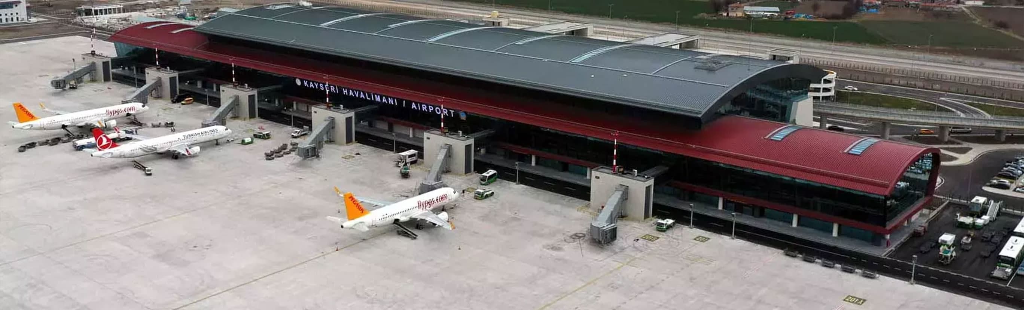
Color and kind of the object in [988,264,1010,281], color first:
gray work vehicle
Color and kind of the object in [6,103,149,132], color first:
white airplane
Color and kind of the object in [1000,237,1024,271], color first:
white bus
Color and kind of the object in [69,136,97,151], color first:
white vehicle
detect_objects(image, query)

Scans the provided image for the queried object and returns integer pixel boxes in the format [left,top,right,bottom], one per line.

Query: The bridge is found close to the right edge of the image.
[812,103,1024,141]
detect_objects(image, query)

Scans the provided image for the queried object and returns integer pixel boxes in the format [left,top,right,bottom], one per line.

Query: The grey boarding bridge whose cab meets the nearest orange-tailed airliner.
[414,139,454,195]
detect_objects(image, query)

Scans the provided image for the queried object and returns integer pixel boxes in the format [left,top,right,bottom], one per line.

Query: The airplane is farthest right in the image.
[326,188,459,233]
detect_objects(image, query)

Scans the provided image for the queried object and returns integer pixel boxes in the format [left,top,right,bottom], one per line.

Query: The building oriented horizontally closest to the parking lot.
[109,0,942,248]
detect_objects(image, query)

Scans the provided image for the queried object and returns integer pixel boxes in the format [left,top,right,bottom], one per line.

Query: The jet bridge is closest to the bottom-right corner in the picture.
[585,179,632,249]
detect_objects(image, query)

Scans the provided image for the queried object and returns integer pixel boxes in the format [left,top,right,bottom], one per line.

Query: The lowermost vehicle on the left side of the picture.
[388,220,414,246]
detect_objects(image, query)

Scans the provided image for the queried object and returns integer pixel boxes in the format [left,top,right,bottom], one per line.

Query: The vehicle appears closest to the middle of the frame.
[478,168,500,184]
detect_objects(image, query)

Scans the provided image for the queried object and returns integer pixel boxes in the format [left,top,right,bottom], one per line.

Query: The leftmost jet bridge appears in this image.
[48,58,97,93]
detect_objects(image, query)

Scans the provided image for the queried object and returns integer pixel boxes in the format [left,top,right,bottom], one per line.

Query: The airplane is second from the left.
[83,126,232,160]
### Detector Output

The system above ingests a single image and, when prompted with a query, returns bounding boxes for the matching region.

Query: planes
[6,103,149,132]
[83,126,232,160]
[326,188,459,233]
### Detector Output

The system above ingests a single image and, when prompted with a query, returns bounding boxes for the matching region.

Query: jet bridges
[119,73,163,106]
[195,90,241,129]
[414,139,454,195]
[48,58,97,93]
[294,112,337,160]
[585,179,632,249]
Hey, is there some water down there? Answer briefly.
No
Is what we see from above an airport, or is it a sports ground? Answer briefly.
airport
